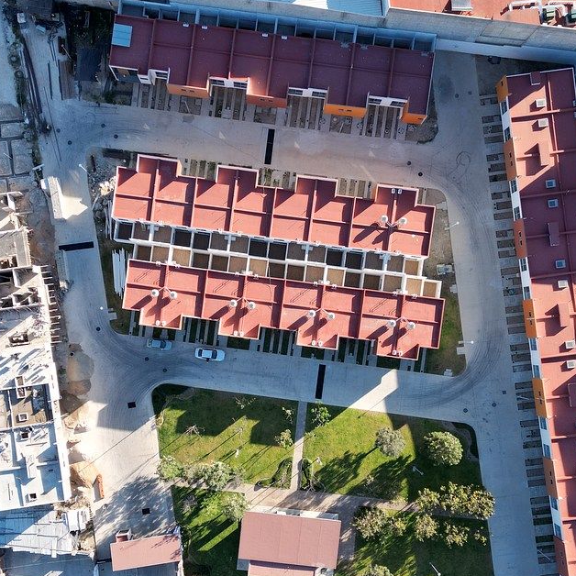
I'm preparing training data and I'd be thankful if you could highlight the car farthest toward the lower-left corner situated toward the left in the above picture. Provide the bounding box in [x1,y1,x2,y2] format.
[147,337,173,351]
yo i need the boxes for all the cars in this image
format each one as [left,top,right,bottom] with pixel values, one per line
[147,337,173,351]
[196,347,226,361]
